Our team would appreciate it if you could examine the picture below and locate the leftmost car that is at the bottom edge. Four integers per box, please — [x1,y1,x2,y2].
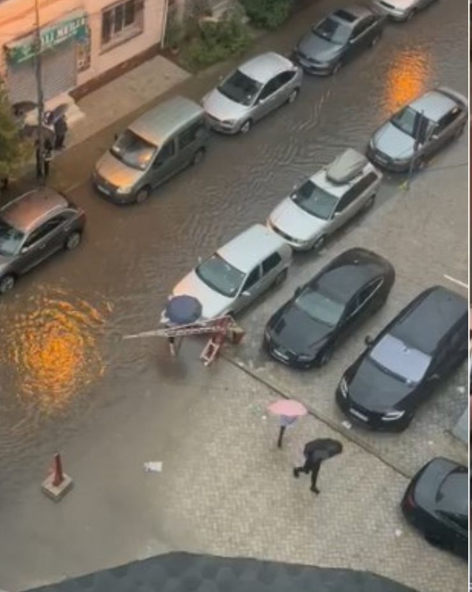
[395,469,471,568]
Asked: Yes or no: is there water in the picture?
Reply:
Yes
